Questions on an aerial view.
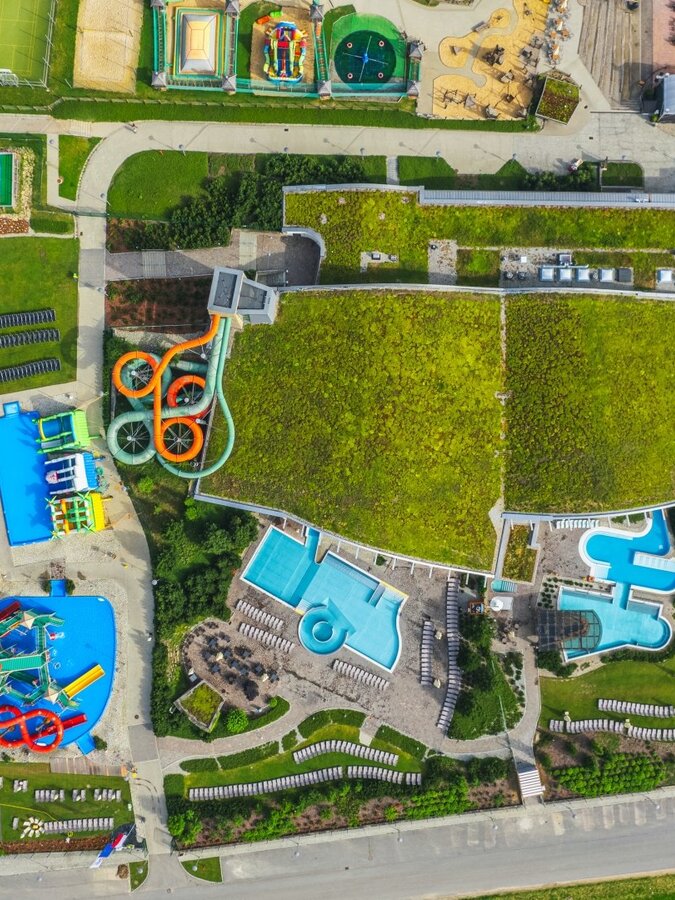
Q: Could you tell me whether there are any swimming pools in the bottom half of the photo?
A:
Yes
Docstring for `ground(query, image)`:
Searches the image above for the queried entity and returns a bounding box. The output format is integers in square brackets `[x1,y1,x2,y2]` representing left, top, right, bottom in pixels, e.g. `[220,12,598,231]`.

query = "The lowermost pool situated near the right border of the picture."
[556,582,673,662]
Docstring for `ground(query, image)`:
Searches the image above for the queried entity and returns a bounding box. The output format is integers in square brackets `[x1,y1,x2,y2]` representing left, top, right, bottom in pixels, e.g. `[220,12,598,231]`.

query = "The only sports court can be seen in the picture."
[73,0,142,93]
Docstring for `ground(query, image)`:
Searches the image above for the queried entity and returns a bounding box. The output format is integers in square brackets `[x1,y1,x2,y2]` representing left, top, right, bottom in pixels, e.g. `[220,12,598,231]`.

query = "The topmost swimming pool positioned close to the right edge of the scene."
[580,509,675,592]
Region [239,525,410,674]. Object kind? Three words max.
swimming pool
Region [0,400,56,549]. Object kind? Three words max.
swimming pool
